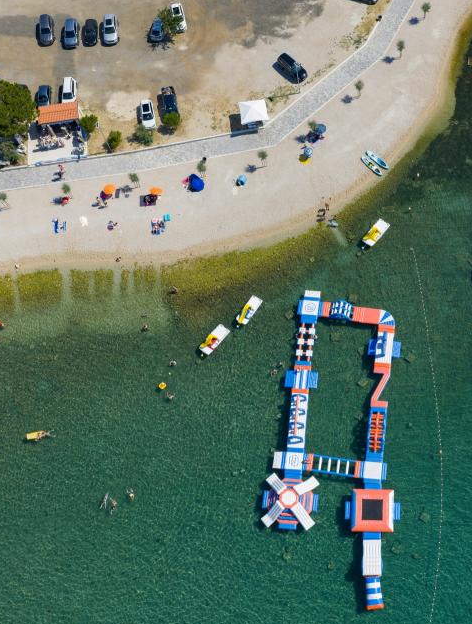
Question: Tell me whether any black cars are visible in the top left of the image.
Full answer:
Yes, a black car can be seen in the top left of the image.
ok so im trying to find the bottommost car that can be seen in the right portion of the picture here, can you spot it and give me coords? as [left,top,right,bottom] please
[276,53,307,82]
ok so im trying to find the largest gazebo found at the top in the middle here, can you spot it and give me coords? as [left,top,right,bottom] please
[240,100,270,136]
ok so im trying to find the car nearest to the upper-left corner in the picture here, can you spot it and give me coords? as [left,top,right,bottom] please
[37,16,55,45]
